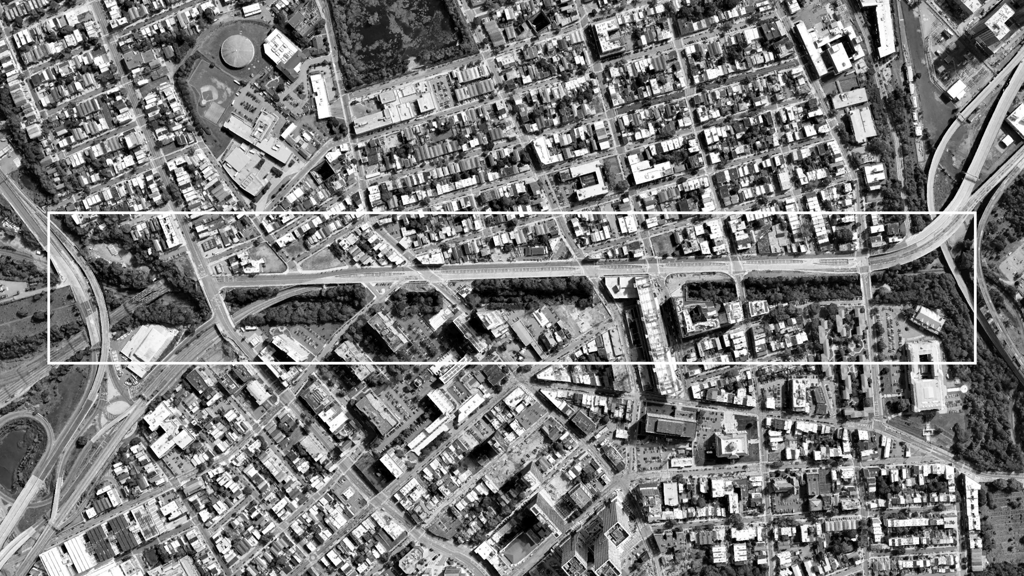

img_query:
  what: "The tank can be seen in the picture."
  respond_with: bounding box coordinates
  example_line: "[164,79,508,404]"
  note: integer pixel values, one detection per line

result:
[221,34,256,69]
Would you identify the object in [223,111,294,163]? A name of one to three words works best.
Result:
building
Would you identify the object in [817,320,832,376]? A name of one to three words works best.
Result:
building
